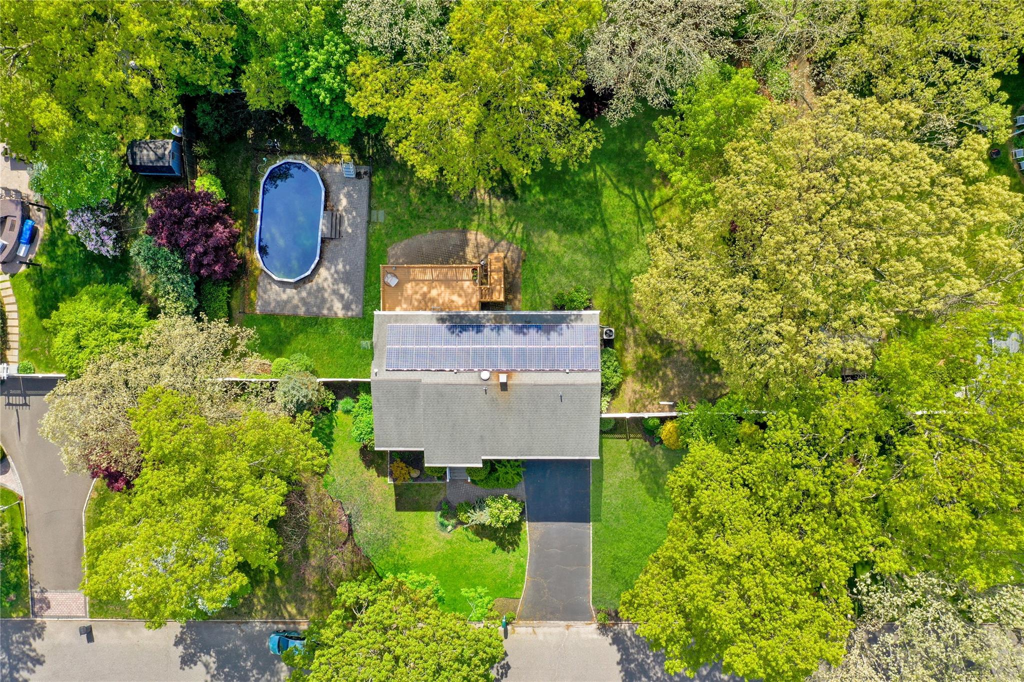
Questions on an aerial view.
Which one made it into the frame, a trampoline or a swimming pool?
swimming pool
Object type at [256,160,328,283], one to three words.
swimming pool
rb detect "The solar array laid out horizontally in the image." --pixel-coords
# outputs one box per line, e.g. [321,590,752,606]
[385,325,599,373]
